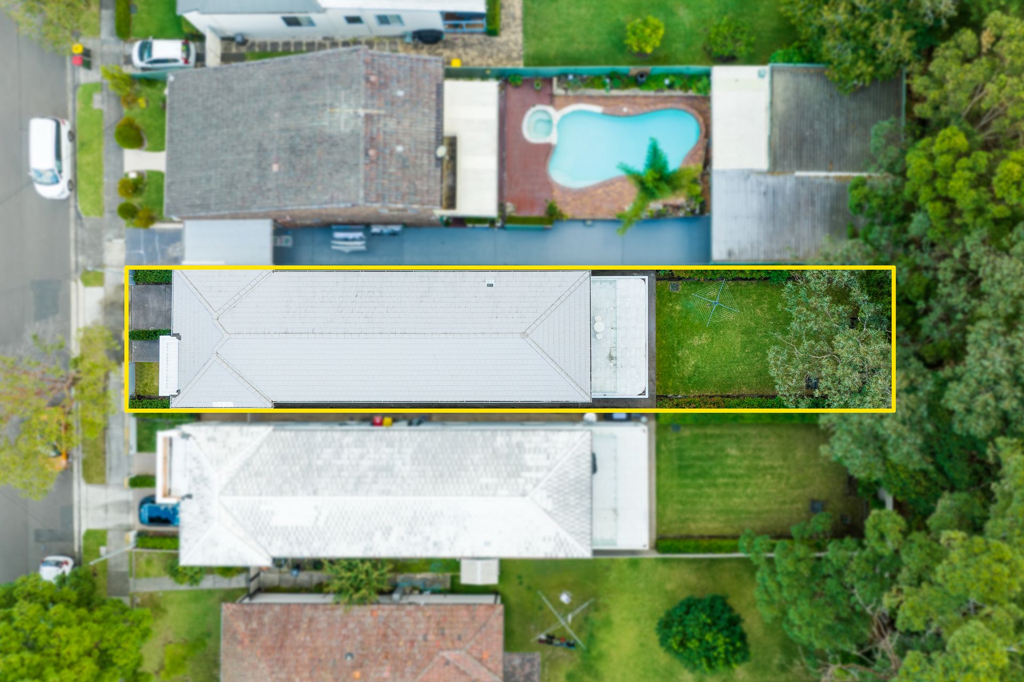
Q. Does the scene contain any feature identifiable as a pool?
Yes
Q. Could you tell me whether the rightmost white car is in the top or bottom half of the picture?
top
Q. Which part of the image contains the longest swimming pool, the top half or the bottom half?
top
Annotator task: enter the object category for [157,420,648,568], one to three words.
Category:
house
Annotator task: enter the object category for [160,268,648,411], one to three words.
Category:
house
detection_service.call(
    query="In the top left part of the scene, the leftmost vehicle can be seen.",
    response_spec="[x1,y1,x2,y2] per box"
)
[28,121,73,200]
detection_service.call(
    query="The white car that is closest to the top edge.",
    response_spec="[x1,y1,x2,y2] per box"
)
[135,35,200,70]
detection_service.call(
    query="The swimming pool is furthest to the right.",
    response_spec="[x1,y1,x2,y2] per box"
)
[547,103,705,193]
